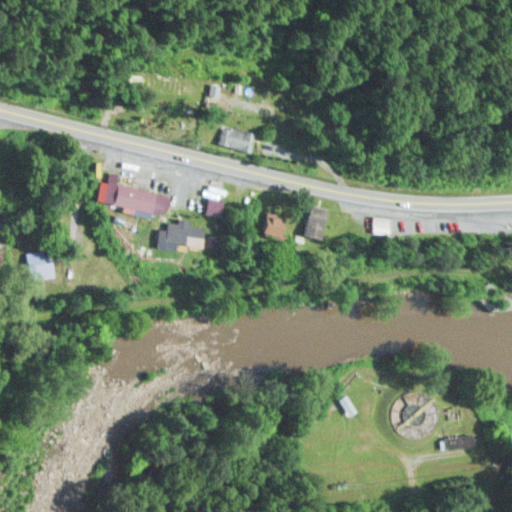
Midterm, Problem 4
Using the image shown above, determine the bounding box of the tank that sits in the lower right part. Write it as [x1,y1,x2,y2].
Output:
[390,392,438,440]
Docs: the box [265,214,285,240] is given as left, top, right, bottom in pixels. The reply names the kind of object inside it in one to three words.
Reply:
house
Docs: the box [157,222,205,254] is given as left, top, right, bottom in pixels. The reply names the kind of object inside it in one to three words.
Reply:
house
